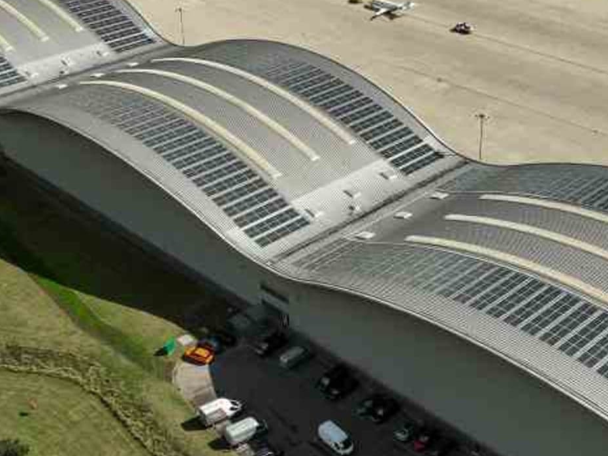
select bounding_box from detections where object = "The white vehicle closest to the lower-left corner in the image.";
[201,399,240,423]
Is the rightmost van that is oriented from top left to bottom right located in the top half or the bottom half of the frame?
bottom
